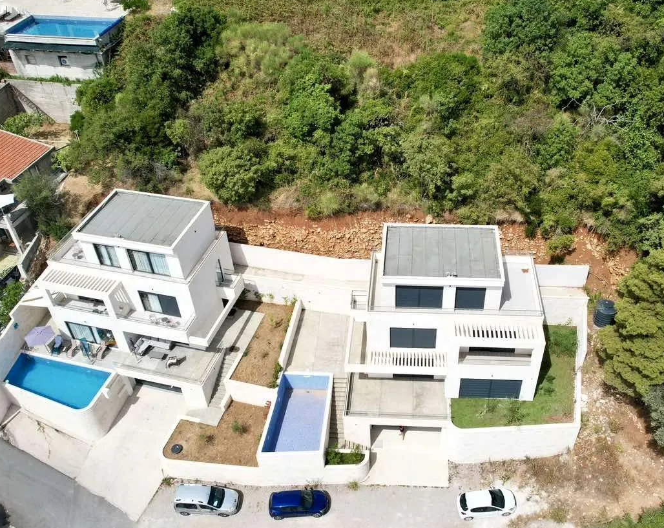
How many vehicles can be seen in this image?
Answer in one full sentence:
In total, 3 vehicles can be seen.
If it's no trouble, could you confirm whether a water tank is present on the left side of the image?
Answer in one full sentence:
No, no water tank appears on the left side of the image.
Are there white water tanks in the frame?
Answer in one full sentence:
No, this view has no white water tank in it.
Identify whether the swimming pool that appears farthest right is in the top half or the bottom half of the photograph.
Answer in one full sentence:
The swimming pool that appears farthest right is in the bottom half of the image.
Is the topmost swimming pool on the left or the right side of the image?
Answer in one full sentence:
The topmost swimming pool sits on the left side.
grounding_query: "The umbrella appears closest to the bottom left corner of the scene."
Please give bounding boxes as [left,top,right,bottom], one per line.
[24,325,58,354]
